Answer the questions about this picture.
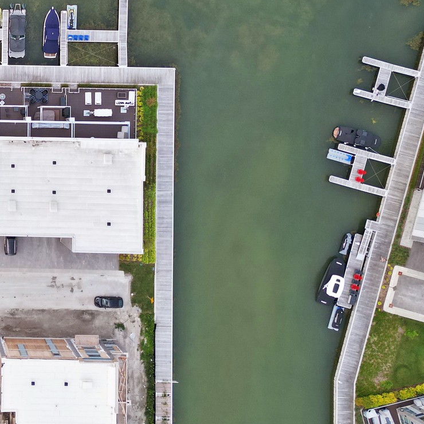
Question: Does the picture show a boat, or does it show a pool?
boat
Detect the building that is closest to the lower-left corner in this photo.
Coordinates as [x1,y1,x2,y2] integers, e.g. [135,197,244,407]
[0,335,132,424]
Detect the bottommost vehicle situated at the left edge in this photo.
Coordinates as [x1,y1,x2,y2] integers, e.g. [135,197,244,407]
[3,237,18,257]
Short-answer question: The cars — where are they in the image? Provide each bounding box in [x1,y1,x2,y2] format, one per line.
[93,295,123,310]
[3,237,18,257]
